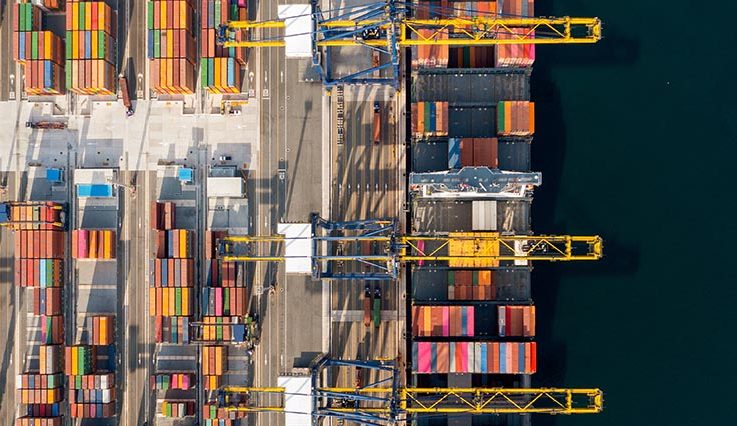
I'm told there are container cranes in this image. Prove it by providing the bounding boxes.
[216,0,606,99]
[216,349,606,426]
[216,214,606,286]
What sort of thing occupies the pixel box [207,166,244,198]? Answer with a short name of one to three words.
shed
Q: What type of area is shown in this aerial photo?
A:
port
